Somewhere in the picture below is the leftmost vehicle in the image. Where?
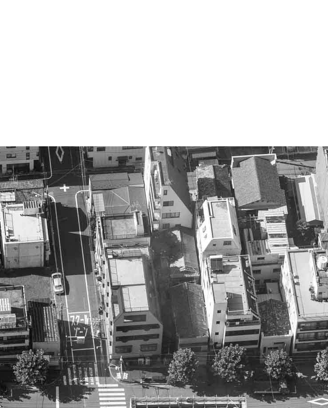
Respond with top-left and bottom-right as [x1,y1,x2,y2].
[51,272,64,296]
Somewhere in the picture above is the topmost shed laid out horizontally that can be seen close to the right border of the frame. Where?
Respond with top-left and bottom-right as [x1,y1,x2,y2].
[231,144,316,169]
